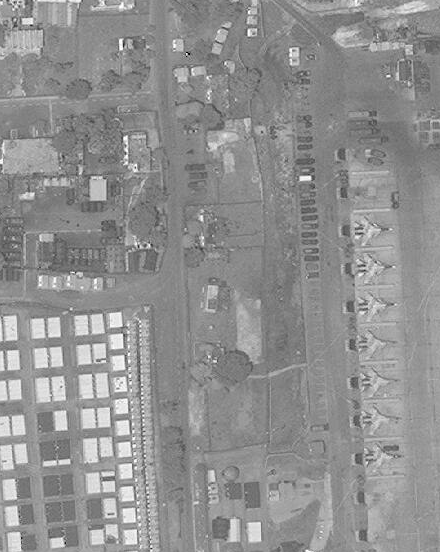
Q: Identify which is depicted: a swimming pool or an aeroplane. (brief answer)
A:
aeroplane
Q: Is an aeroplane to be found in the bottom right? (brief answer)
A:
Yes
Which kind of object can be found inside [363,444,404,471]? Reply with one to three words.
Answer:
airplane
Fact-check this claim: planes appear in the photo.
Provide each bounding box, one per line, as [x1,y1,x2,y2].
[355,291,396,319]
[357,329,397,357]
[352,216,392,244]
[361,406,401,434]
[359,367,399,395]
[363,444,404,471]
[354,254,393,282]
